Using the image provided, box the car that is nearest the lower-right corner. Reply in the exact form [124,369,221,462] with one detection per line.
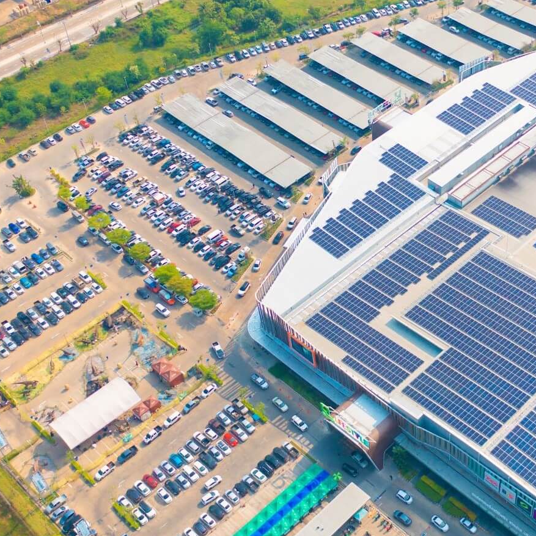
[457,515,479,534]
